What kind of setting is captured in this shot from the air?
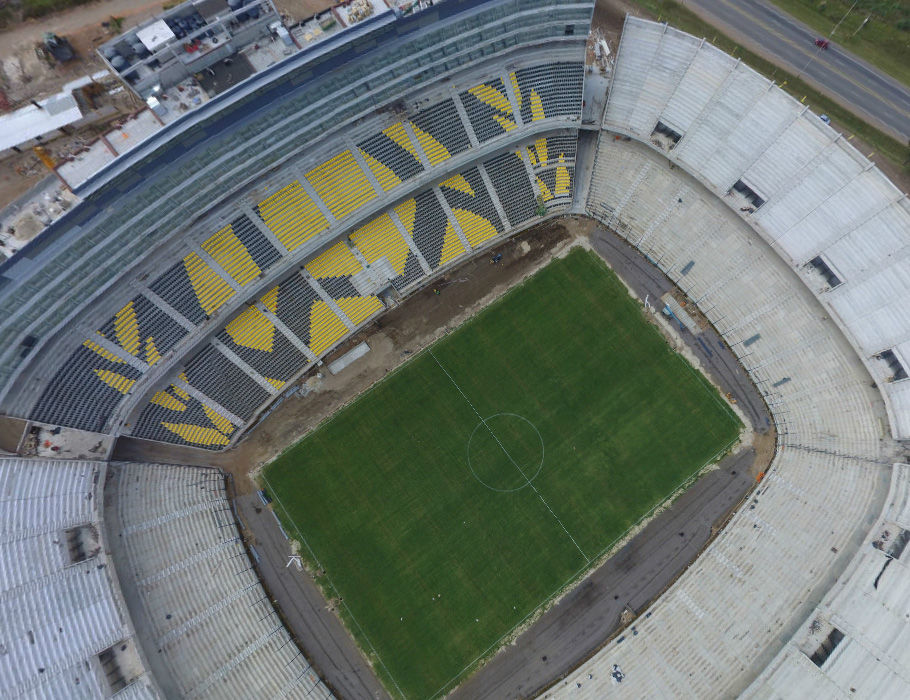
sports ground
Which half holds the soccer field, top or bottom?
bottom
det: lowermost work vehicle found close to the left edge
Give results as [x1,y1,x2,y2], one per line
[36,149,52,170]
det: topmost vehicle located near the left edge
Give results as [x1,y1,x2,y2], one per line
[43,30,74,62]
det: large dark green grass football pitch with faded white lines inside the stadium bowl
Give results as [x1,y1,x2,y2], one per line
[255,242,746,700]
